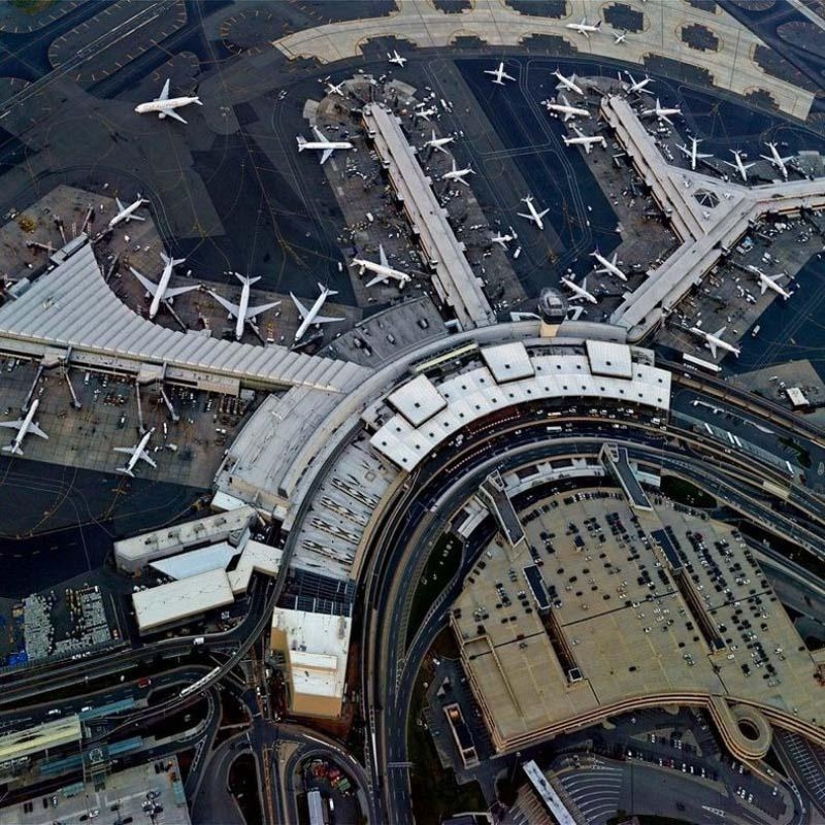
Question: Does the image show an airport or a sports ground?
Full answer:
This looks like an airport.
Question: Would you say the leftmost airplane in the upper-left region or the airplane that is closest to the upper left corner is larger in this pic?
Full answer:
The airplane that is closest to the upper left corner is larger than the leftmost airplane in the upper-left region.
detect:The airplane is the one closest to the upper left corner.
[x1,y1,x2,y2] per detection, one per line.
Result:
[135,77,205,124]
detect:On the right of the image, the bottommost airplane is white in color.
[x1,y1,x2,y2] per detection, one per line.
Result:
[690,327,743,359]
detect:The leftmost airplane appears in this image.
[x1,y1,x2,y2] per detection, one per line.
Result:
[0,400,52,454]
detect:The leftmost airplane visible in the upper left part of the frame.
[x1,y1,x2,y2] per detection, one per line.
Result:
[110,193,150,226]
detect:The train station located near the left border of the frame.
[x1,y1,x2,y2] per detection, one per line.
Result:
[0,690,84,771]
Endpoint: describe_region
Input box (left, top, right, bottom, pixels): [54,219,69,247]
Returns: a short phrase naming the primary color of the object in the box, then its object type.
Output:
gray jet bridge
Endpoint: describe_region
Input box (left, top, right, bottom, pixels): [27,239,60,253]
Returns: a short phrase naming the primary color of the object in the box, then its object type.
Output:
gray jet bridge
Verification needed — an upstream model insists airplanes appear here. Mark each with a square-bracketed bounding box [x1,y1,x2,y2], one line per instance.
[493,228,515,247]
[612,27,630,45]
[563,125,606,154]
[551,67,582,95]
[324,76,345,96]
[624,71,657,96]
[690,327,743,359]
[518,191,553,230]
[349,244,411,288]
[723,146,757,182]
[428,130,459,154]
[676,135,715,169]
[296,126,352,164]
[748,267,794,299]
[135,77,205,124]
[566,17,599,37]
[444,162,478,188]
[110,193,150,226]
[559,275,596,305]
[207,272,282,342]
[483,63,516,84]
[591,246,627,281]
[548,94,589,121]
[412,102,438,118]
[759,139,794,181]
[116,429,162,475]
[128,251,201,320]
[0,400,52,454]
[287,283,346,342]
[646,96,685,125]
